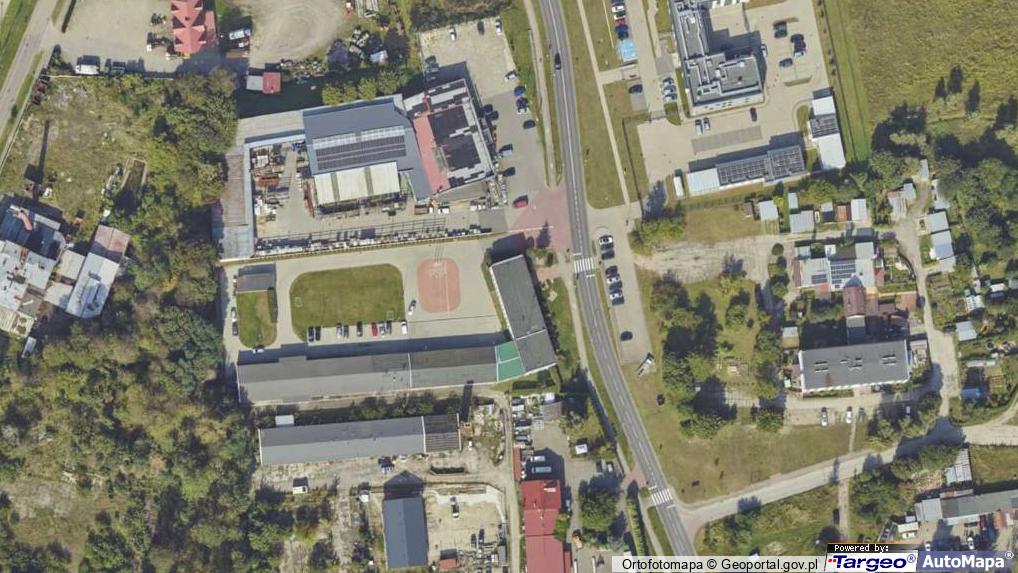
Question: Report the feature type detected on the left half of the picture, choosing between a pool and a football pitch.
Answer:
football pitch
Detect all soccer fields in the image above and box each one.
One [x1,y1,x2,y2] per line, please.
[291,264,405,341]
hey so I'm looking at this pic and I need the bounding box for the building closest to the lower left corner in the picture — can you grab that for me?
[0,306,35,338]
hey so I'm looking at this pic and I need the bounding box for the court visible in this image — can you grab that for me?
[418,256,461,313]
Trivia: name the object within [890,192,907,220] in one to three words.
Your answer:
shed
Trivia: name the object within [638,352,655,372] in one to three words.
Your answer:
vehicle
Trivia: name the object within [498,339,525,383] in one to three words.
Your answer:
building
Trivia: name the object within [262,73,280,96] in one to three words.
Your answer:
building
